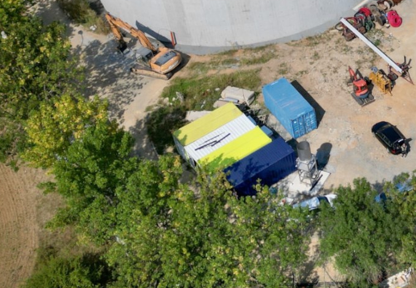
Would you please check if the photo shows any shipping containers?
Yes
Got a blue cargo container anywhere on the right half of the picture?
Yes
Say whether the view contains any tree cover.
Yes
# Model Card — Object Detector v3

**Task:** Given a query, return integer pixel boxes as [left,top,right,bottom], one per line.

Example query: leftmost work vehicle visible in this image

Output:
[97,28,183,75]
